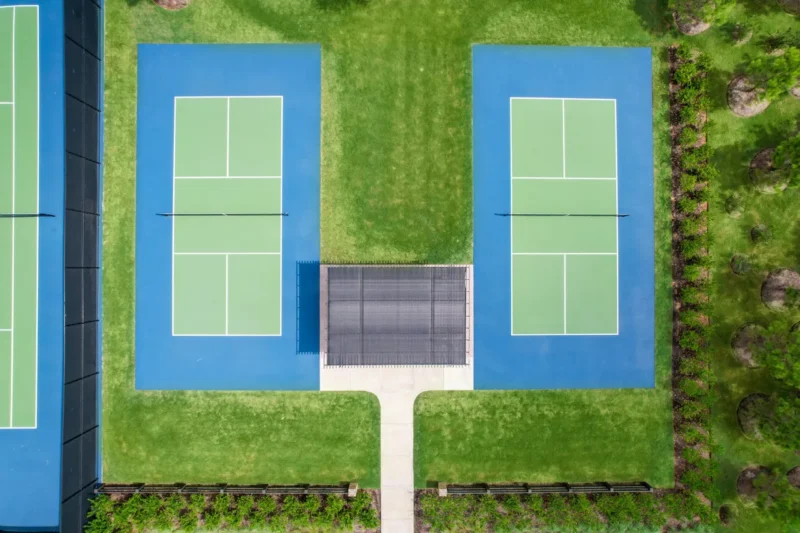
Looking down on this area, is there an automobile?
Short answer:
No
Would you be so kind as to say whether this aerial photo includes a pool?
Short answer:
No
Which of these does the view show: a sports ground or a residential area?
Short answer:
sports ground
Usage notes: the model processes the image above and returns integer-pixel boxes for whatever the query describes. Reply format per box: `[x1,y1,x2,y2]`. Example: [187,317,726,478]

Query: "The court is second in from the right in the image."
[134,42,321,391]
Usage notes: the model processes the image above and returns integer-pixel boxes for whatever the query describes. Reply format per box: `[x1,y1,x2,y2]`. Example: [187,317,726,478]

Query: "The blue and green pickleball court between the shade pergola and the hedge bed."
[472,45,655,389]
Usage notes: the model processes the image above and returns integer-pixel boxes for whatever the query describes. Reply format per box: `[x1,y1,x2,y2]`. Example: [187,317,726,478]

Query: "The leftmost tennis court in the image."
[0,0,104,532]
